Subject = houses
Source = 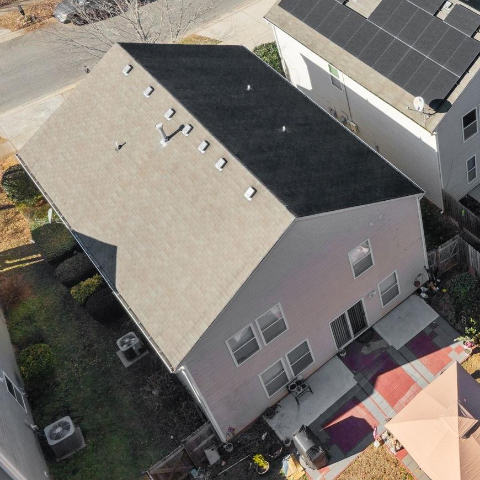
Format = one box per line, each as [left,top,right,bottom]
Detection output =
[19,43,434,447]
[0,318,47,480]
